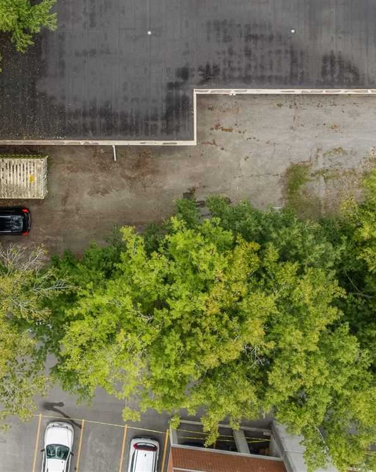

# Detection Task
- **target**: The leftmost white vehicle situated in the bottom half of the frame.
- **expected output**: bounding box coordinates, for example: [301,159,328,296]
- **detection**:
[39,419,74,472]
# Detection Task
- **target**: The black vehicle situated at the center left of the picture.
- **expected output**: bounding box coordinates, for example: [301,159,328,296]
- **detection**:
[0,201,33,233]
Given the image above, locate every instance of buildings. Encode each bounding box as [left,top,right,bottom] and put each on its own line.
[163,426,317,472]
[0,0,376,145]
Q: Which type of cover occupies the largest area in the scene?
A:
trees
